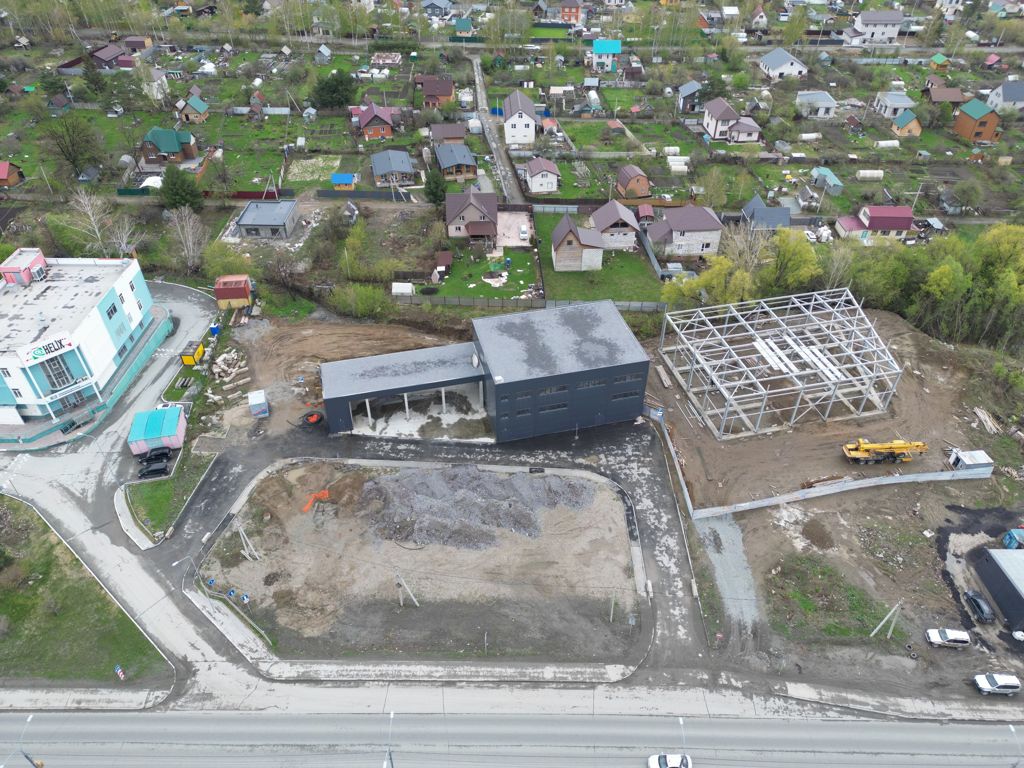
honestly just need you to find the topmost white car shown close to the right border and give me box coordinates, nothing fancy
[925,627,979,652]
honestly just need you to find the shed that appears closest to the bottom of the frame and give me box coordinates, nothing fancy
[960,543,1024,662]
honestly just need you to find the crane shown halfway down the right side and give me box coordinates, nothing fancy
[843,436,934,465]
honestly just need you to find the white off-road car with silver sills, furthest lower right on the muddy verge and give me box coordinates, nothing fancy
[972,671,1024,698]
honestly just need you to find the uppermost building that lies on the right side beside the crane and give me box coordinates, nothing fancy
[657,285,904,440]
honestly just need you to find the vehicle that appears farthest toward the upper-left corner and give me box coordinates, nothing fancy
[104,30,123,43]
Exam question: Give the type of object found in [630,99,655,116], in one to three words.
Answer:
shed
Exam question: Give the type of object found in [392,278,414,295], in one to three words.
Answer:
greenhouse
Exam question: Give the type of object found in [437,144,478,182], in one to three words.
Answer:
building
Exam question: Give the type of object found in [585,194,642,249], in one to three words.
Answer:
house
